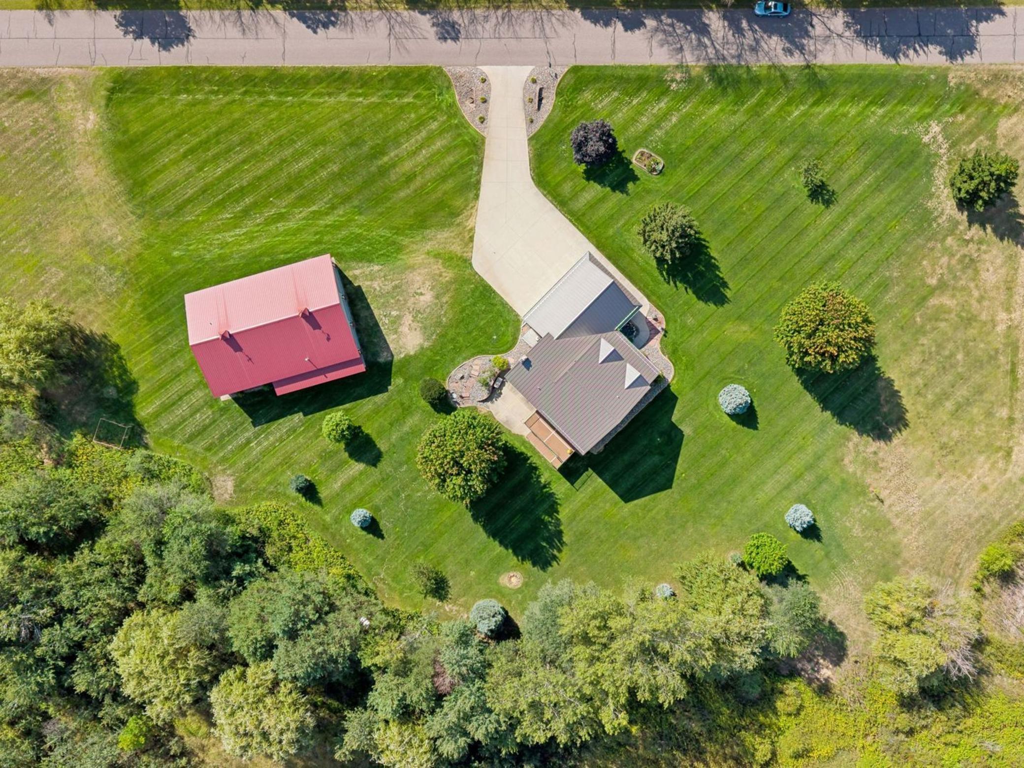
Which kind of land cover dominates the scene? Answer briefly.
grass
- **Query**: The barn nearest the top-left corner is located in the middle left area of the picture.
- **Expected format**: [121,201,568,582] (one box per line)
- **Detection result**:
[183,253,369,399]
